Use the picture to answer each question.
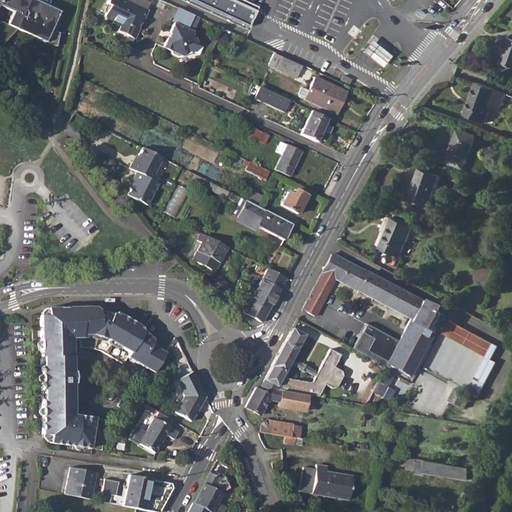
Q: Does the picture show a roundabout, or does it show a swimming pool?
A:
roundabout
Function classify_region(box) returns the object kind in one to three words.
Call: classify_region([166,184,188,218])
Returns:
greenhouse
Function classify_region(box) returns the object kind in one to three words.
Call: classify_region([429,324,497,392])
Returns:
building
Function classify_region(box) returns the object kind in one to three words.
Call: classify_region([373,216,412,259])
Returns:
house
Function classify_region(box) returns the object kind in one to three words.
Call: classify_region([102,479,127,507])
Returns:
shed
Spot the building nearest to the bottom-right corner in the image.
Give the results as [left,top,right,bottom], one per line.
[403,459,467,481]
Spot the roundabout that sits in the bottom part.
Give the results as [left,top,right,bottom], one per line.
[197,328,266,394]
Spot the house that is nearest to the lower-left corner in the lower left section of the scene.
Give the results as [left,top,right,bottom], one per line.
[63,466,99,500]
